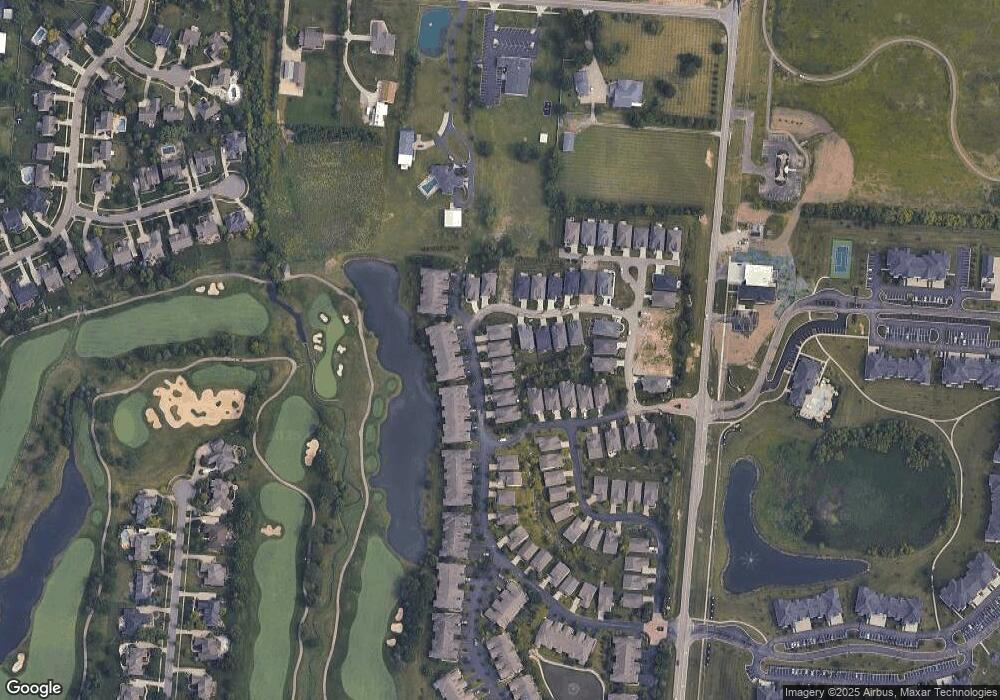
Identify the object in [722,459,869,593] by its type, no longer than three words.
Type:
pond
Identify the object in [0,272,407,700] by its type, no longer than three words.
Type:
golf course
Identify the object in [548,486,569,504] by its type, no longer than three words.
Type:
house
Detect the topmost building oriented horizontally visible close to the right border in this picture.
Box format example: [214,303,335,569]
[888,249,951,279]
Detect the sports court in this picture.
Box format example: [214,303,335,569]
[832,239,853,278]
